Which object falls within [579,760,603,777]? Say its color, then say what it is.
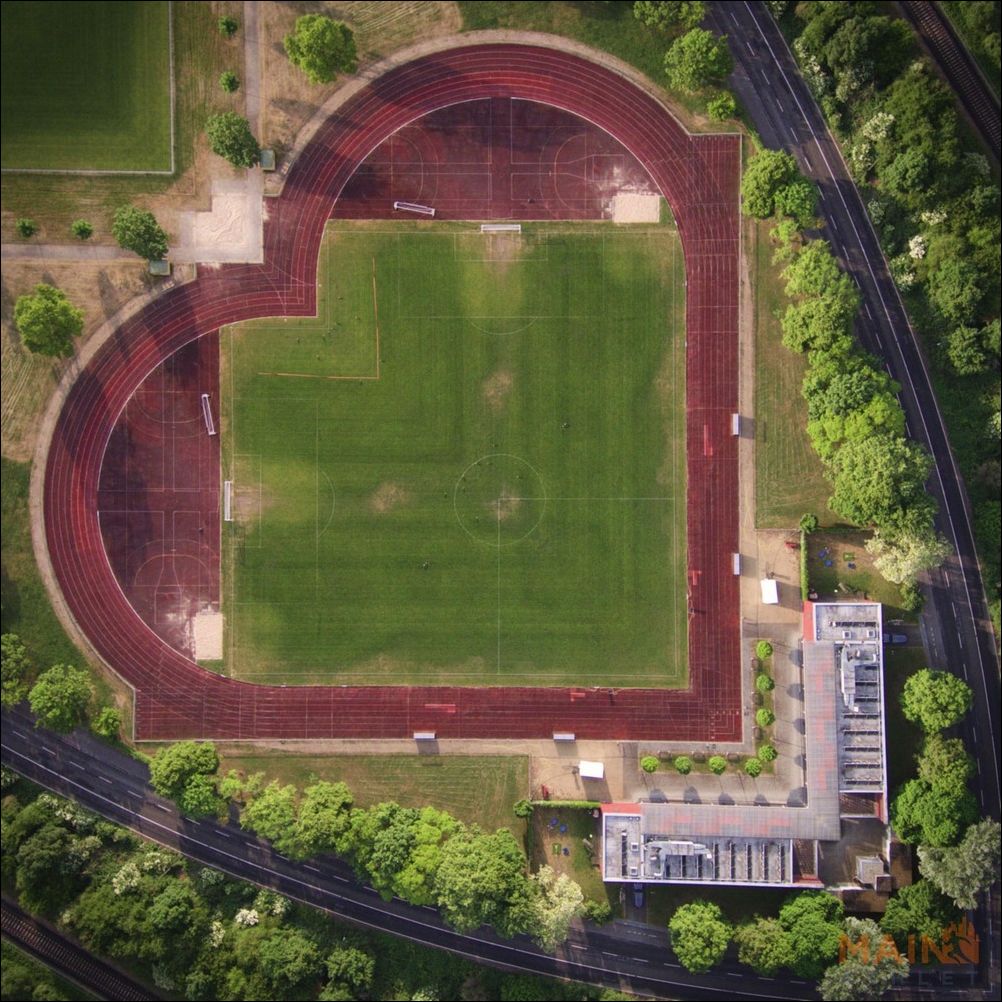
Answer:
white gazebo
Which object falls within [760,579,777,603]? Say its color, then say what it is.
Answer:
white gazebo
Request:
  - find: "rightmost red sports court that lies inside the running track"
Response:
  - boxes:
[330,98,664,219]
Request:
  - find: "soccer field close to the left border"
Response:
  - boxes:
[0,0,173,172]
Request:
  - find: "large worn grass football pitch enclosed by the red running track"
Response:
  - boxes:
[218,218,690,690]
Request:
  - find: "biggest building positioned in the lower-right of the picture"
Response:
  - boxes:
[602,602,891,891]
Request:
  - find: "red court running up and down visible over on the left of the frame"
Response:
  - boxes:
[98,330,219,664]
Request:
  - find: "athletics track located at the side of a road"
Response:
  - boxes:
[43,43,742,742]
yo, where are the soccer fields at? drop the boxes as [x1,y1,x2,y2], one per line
[0,0,173,172]
[218,218,690,690]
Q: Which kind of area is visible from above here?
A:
sports ground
